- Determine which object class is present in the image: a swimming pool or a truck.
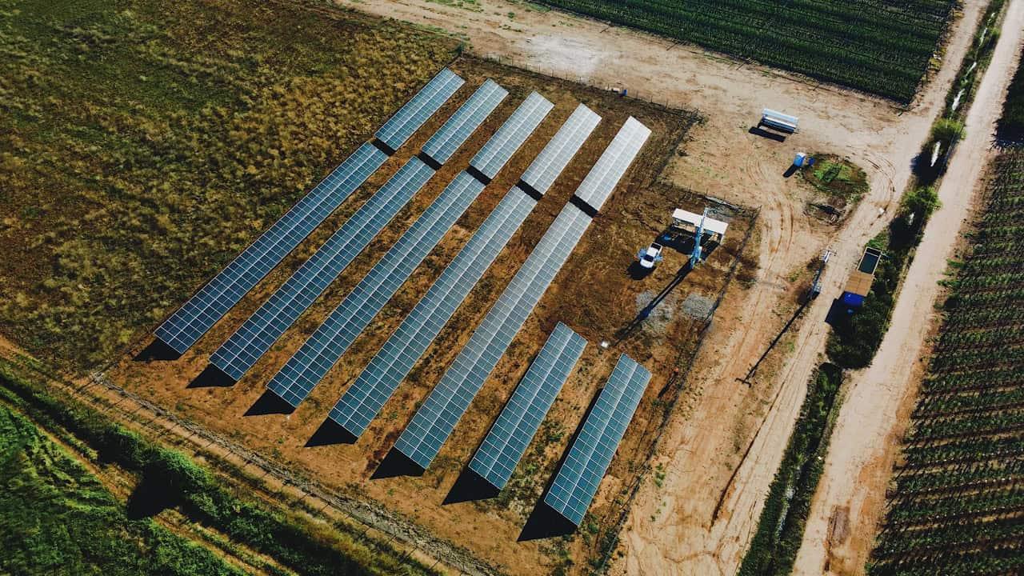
truck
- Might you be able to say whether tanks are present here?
No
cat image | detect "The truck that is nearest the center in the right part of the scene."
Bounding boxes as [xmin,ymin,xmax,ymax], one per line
[640,242,664,269]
